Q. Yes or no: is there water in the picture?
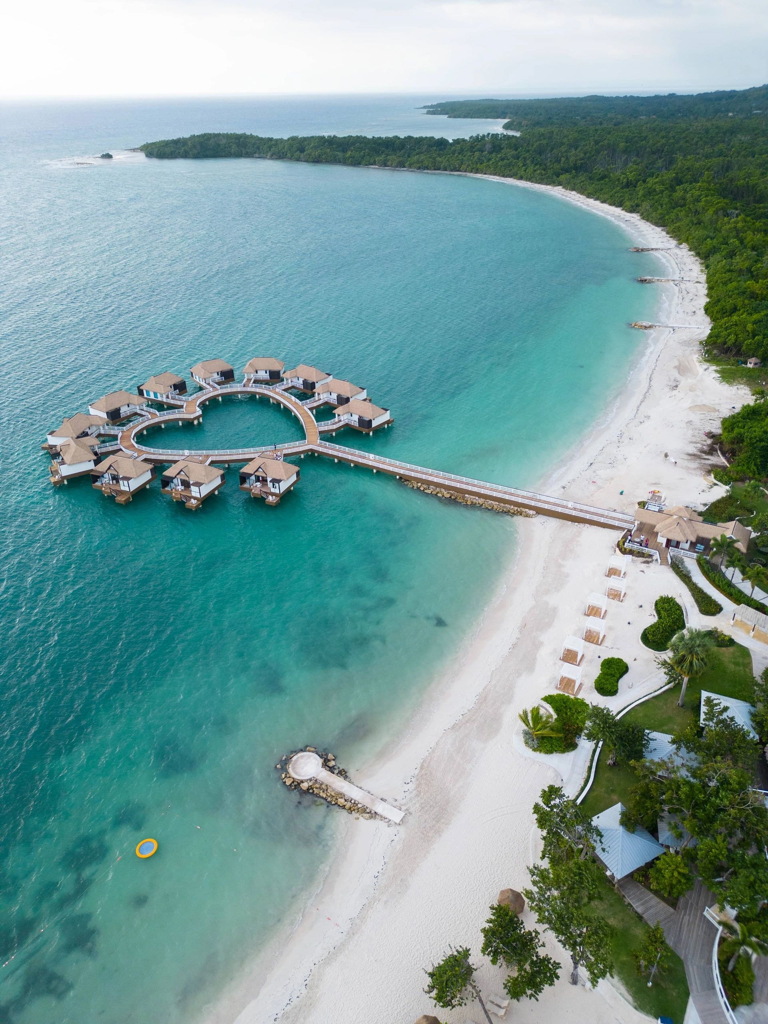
Yes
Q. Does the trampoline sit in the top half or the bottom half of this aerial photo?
bottom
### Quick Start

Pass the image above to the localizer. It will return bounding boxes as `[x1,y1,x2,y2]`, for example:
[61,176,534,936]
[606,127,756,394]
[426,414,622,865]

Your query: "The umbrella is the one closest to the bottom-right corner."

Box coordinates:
[499,883,525,909]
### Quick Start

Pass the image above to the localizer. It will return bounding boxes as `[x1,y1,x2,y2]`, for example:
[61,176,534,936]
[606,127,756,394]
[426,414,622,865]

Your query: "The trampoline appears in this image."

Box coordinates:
[135,838,158,859]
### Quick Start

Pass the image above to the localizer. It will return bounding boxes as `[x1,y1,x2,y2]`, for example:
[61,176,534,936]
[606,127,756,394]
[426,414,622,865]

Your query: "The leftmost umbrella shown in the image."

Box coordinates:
[412,1004,442,1024]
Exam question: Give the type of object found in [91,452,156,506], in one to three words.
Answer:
house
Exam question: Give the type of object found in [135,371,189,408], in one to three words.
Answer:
house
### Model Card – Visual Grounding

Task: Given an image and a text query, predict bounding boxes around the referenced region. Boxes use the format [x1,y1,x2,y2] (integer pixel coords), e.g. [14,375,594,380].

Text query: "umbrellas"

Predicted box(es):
[412,1004,442,1024]
[499,883,525,909]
